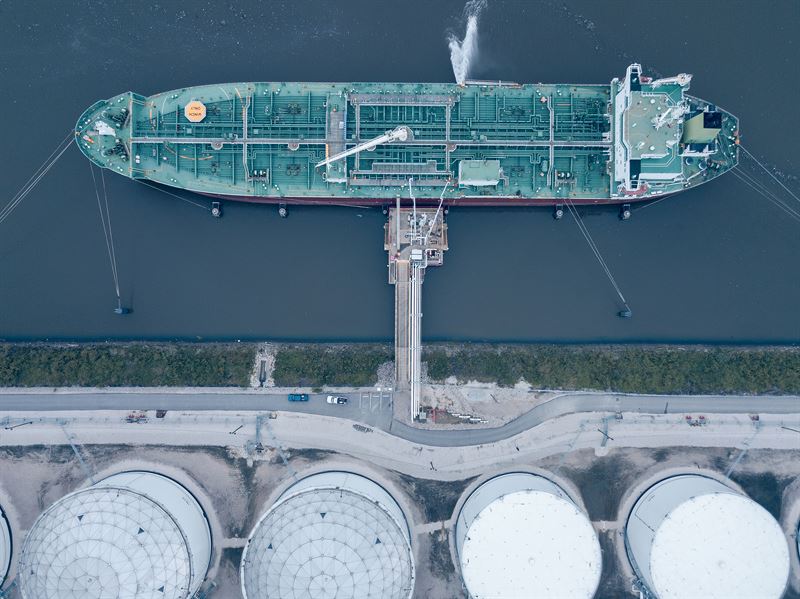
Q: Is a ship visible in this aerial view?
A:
Yes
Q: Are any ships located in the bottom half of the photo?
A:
No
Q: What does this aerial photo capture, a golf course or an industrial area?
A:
industrial area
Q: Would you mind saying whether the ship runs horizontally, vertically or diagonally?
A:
horizontally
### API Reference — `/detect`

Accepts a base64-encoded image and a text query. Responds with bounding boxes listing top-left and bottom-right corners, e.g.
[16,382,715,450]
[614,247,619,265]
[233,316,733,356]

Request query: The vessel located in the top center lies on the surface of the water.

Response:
[68,65,740,205]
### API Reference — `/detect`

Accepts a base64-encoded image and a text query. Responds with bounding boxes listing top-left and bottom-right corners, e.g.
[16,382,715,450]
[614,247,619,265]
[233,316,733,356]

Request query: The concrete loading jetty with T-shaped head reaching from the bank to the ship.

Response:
[384,208,448,421]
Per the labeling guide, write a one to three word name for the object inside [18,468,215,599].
storage tank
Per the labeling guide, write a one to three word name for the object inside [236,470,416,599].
storage tank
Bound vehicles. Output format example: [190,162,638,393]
[327,396,348,405]
[288,394,309,402]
